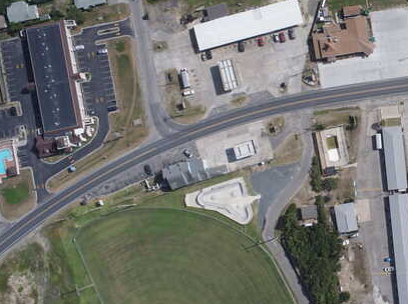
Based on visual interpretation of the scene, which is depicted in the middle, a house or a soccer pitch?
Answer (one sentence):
The one visible in the middle is a house.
